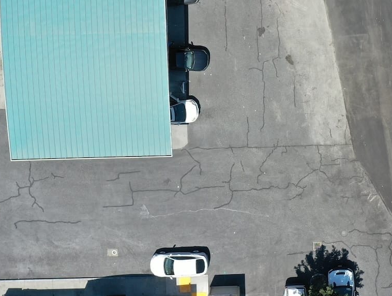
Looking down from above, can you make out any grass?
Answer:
No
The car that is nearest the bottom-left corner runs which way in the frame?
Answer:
horizontally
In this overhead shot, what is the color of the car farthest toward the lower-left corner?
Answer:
white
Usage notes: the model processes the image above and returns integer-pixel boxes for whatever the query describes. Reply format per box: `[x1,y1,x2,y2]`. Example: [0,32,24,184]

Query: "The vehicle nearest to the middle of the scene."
[170,92,200,126]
